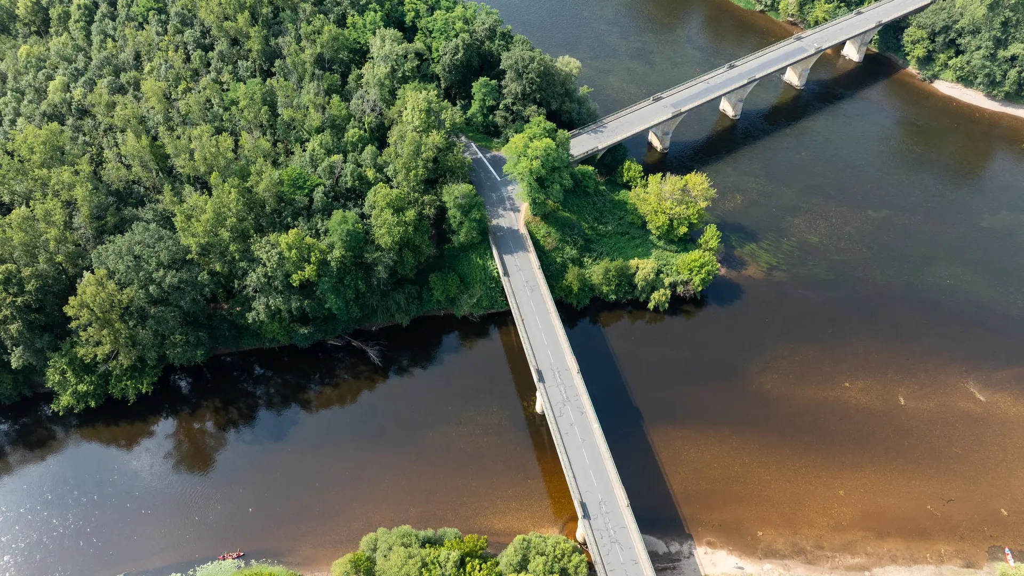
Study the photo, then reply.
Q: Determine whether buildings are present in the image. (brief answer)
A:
No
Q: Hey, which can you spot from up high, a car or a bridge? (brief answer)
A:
bridge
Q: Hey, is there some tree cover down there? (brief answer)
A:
Yes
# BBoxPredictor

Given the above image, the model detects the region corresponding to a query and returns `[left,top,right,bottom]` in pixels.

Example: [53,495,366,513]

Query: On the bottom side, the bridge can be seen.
[489,227,654,576]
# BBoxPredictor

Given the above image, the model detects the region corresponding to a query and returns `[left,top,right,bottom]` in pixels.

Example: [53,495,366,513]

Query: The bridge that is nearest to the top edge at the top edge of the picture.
[552,0,936,162]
